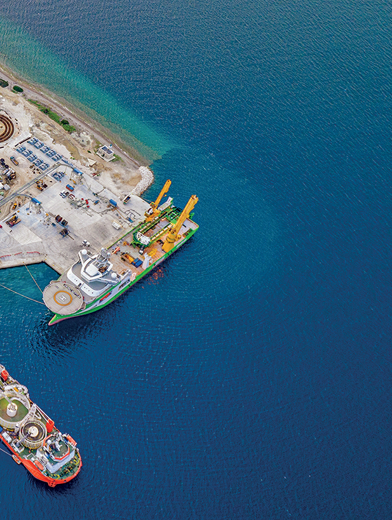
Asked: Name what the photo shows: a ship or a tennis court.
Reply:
ship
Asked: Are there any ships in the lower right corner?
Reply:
No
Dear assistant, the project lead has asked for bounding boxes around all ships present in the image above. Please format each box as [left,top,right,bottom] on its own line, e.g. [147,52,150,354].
[43,181,200,324]
[0,366,85,482]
